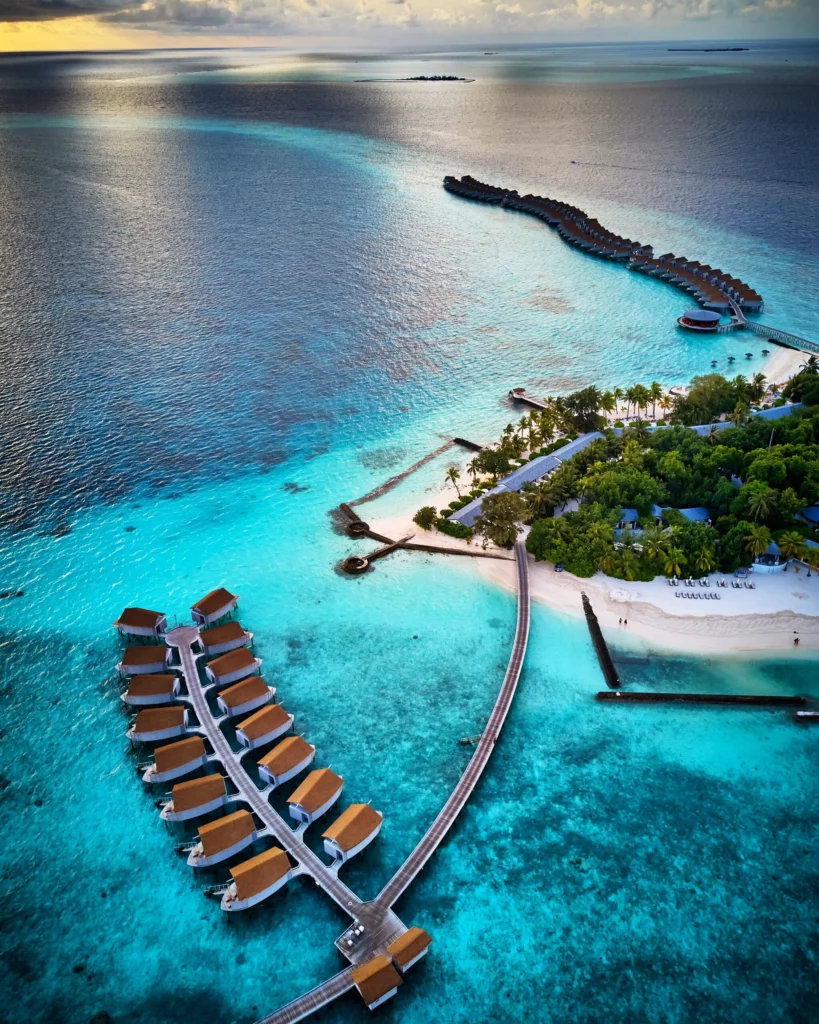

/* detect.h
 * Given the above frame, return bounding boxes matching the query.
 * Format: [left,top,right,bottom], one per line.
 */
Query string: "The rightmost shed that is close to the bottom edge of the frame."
[383,925,434,987]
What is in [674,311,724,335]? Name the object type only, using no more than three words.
building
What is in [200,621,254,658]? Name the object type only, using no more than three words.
house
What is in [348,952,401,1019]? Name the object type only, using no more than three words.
shed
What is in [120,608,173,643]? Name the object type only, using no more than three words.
house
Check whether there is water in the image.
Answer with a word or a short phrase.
Yes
